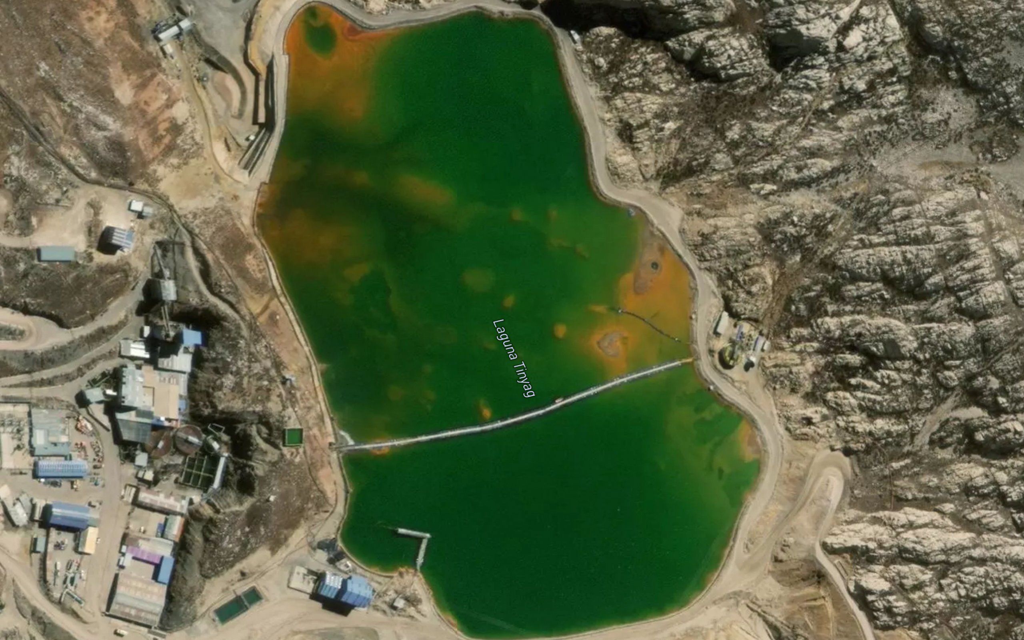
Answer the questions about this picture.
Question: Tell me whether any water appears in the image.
Yes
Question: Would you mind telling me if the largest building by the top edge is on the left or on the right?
left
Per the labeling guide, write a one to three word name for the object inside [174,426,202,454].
storage tank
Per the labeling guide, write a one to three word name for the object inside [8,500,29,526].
shed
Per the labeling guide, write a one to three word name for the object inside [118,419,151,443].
building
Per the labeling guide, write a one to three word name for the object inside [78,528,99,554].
house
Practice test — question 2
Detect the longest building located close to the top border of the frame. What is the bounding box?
[159,19,193,44]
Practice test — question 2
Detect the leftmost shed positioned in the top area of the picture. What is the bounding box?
[41,246,75,261]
